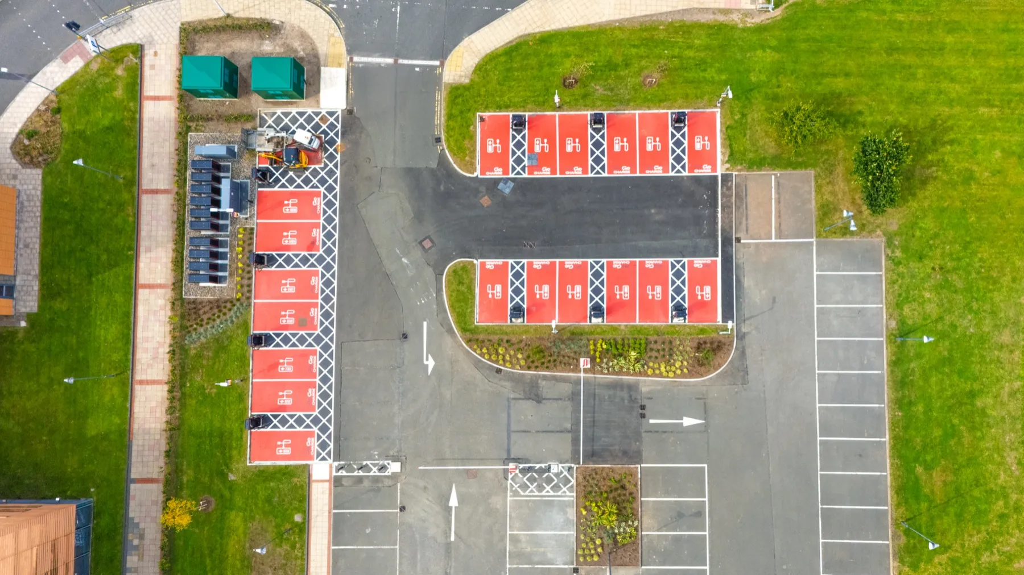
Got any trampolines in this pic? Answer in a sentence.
No, there isn't any trampoline down there.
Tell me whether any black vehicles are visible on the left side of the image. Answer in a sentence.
No, I see no black vehicle on the left side of the image.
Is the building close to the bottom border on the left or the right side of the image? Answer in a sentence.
The building close to the bottom border sits on the left side.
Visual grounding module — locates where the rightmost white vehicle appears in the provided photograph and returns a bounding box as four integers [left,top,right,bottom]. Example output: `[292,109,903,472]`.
[295,129,324,154]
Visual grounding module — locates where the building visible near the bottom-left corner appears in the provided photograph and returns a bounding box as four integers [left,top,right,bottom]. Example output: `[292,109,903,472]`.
[0,500,93,575]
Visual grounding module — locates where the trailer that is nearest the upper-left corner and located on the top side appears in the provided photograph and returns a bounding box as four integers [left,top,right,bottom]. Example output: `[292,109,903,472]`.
[230,125,295,155]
